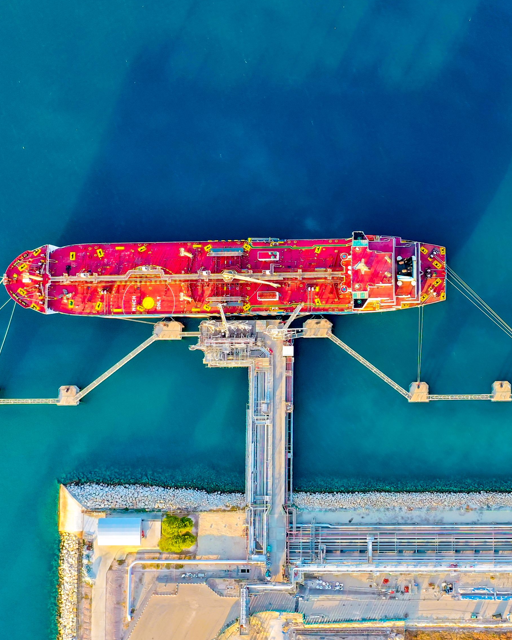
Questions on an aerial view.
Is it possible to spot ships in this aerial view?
Yes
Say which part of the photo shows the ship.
center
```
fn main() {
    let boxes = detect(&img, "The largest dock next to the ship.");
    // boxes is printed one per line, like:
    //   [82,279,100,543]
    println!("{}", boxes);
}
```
[199,319,285,418]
